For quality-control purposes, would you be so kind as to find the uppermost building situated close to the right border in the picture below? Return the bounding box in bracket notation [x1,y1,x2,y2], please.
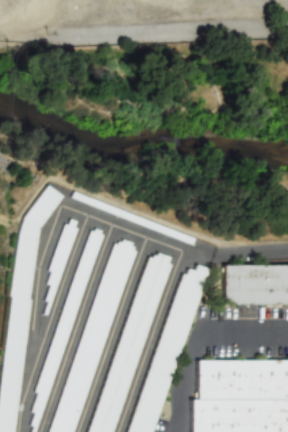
[226,265,288,305]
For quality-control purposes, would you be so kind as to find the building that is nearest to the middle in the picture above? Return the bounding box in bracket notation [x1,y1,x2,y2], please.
[72,192,196,246]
